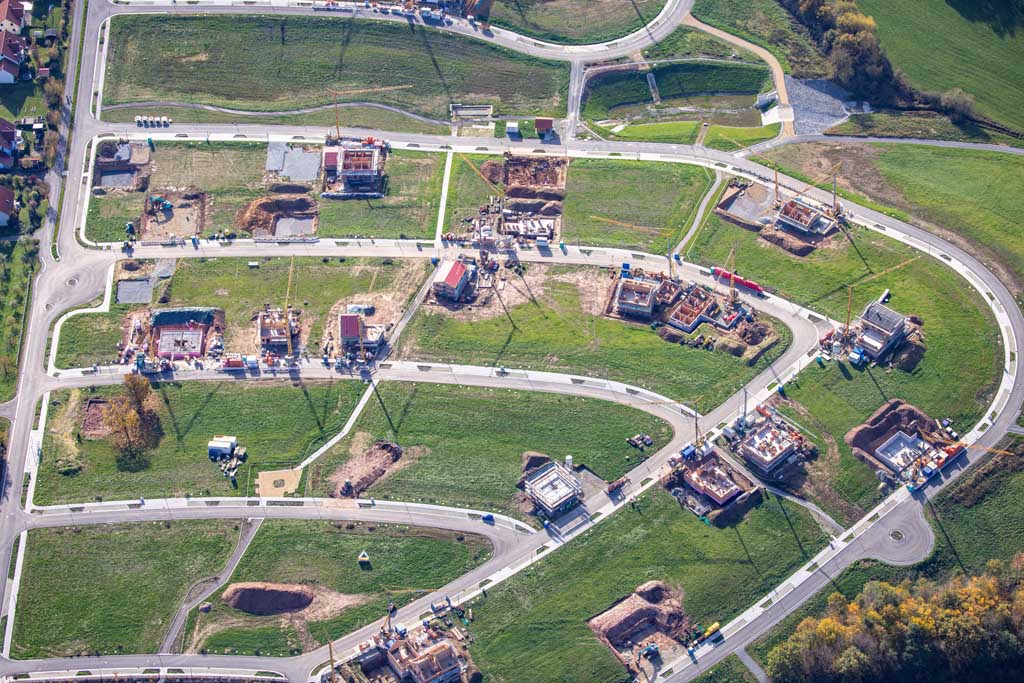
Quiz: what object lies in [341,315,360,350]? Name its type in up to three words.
house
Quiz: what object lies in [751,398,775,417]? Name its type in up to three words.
vehicle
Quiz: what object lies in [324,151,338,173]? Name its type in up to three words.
house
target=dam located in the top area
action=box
[751,93,794,128]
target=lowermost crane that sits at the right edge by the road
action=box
[916,422,1014,485]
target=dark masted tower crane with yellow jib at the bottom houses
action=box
[374,590,439,662]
